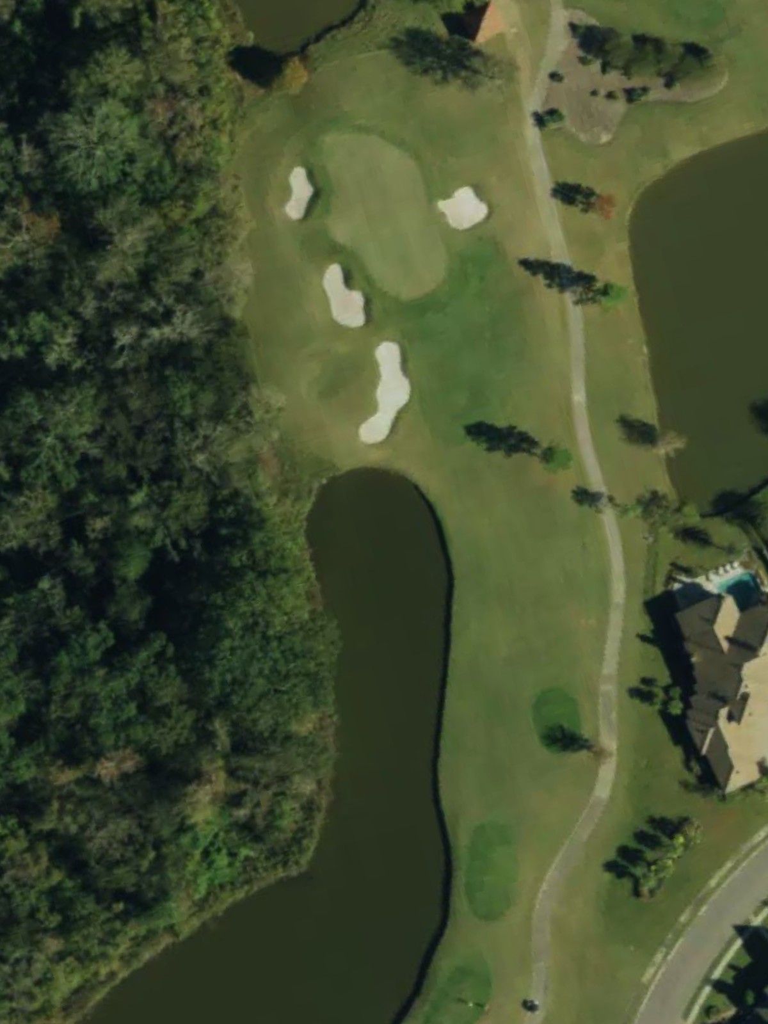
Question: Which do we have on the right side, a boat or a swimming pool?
swimming pool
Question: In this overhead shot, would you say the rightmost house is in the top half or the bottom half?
bottom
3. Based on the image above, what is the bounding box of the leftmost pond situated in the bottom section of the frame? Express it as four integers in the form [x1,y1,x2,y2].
[82,468,450,1024]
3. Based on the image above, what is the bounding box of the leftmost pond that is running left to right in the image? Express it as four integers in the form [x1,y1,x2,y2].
[234,0,364,56]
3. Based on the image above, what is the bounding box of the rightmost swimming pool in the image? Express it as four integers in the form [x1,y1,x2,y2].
[716,571,762,608]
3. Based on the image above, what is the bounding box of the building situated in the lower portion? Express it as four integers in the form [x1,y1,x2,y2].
[676,592,768,794]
